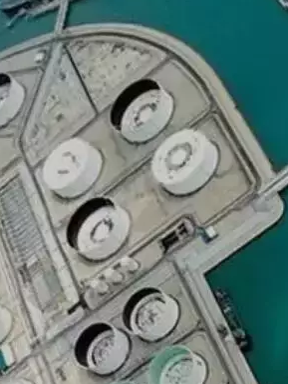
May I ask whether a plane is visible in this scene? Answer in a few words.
No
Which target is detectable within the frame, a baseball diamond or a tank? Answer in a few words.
tank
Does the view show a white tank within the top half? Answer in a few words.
Yes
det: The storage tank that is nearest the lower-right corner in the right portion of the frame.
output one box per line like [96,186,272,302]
[149,343,210,384]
